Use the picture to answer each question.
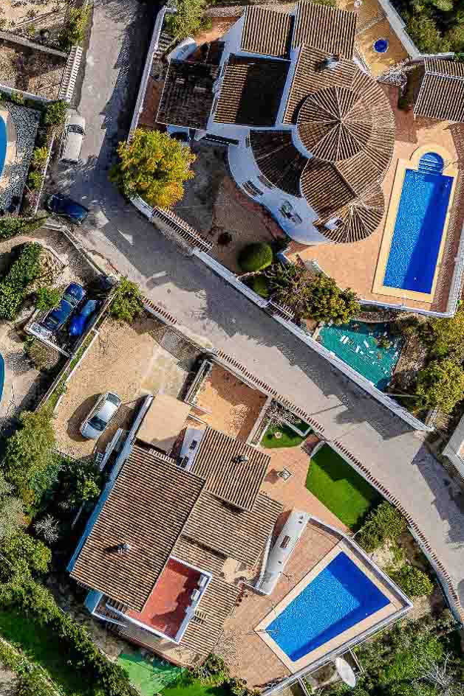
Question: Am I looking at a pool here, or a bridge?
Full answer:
The image shows a pool.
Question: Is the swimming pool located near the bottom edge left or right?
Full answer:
The swimming pool located near the bottom edge sits on the right side.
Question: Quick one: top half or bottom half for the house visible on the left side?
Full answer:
It is in the bottom half that the house visible on the left side appears.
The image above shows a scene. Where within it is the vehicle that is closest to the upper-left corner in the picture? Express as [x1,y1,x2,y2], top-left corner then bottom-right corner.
[58,112,88,166]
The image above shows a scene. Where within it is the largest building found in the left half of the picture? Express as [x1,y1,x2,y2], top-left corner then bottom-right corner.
[65,392,284,668]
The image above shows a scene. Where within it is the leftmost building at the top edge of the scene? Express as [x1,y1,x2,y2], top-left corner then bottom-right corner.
[148,1,396,249]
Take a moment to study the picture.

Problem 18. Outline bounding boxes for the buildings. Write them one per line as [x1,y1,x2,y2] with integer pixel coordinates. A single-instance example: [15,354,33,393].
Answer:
[397,56,464,131]
[148,1,396,249]
[431,420,464,487]
[65,392,284,668]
